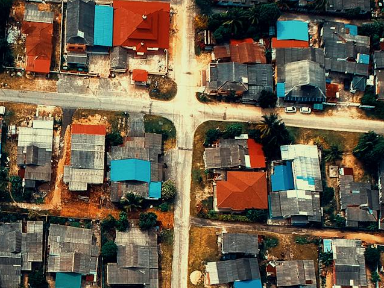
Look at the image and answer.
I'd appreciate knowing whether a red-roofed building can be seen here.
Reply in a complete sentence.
Yes, looking at the shot, I can spot a red-roofed building.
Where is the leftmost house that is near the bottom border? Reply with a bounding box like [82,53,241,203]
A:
[0,218,43,288]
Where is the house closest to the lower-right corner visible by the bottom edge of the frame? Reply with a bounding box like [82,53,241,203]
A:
[322,239,366,288]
